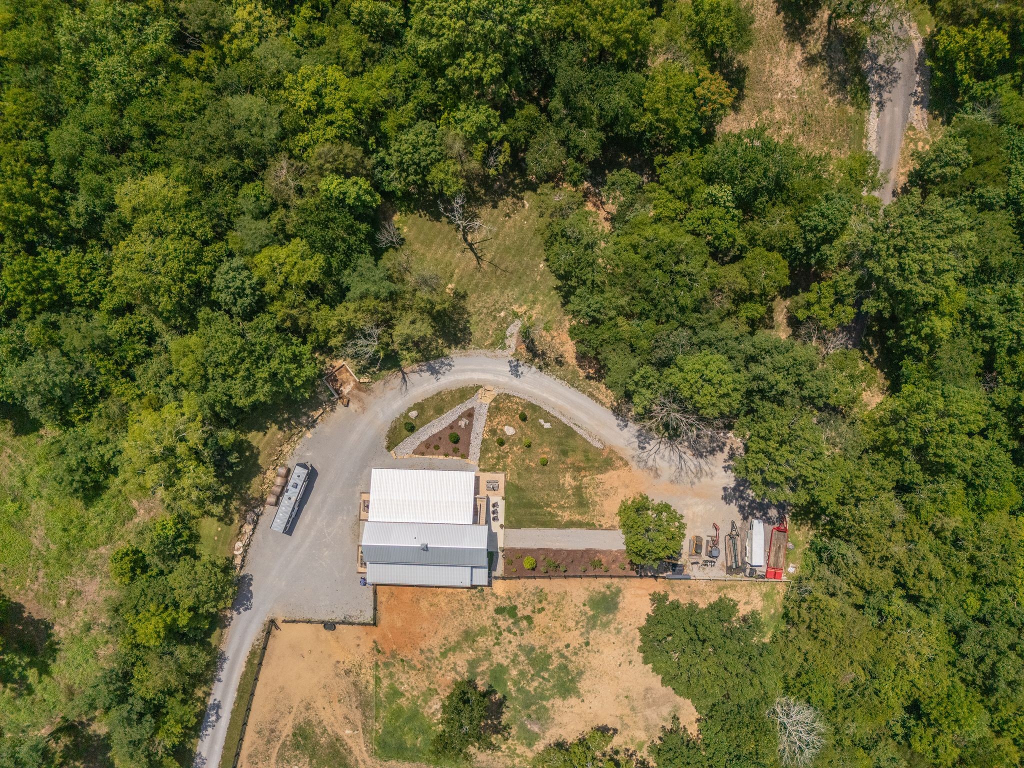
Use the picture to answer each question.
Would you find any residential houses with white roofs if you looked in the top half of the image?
No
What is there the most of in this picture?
trees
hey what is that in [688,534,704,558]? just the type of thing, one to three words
work vehicle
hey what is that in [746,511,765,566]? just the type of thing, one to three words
trailer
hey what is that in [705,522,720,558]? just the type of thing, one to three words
work vehicle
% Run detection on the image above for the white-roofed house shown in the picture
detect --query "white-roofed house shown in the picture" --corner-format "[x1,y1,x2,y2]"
[362,468,488,587]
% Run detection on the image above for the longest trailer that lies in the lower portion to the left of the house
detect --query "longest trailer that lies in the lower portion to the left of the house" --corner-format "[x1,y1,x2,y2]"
[270,455,314,533]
